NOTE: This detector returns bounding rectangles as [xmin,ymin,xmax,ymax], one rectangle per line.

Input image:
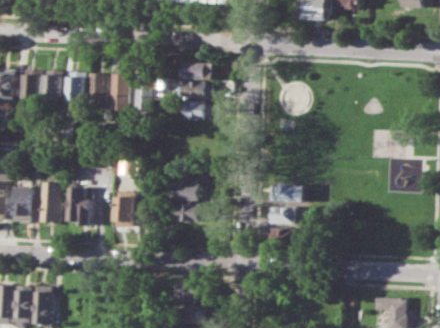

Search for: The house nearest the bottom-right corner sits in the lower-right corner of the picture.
[377,296,410,328]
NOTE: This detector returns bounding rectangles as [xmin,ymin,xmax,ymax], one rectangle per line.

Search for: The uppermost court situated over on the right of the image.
[372,130,414,159]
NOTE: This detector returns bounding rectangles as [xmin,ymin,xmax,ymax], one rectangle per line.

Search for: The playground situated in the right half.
[388,159,423,192]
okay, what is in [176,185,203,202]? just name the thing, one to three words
house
